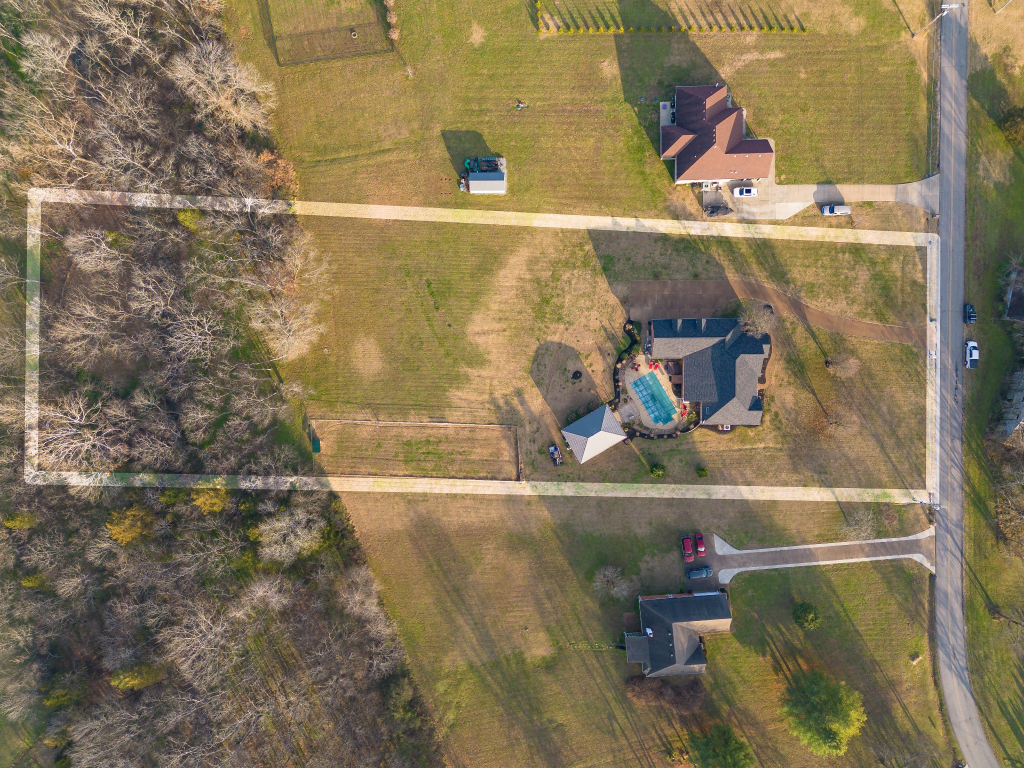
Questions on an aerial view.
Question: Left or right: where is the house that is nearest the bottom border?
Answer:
right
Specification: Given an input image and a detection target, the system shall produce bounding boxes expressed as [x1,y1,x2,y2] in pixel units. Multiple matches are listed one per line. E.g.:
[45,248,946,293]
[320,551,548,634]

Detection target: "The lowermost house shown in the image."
[624,592,732,677]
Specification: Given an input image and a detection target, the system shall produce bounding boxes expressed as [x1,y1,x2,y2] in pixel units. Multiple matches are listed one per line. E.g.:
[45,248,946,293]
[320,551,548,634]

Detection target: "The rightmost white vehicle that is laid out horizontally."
[821,204,852,216]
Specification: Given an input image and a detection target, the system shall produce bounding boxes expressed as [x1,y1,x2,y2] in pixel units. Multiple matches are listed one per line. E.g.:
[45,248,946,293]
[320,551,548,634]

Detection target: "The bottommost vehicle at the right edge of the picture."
[964,340,979,369]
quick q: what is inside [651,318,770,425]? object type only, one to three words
house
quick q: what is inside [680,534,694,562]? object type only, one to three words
vehicle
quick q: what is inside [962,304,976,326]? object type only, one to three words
car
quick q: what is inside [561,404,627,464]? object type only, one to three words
building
